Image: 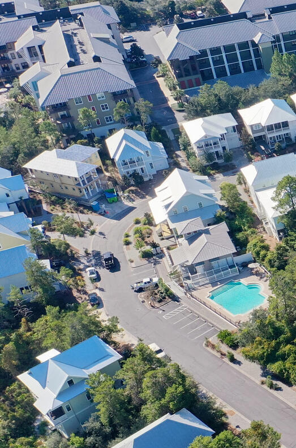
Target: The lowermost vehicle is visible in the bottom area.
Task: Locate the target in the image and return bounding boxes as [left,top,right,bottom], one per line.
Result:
[142,335,167,359]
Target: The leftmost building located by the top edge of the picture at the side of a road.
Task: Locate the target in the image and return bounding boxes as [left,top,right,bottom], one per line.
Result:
[0,19,146,142]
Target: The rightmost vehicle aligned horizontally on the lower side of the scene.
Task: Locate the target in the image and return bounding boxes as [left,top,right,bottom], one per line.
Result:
[129,273,160,289]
